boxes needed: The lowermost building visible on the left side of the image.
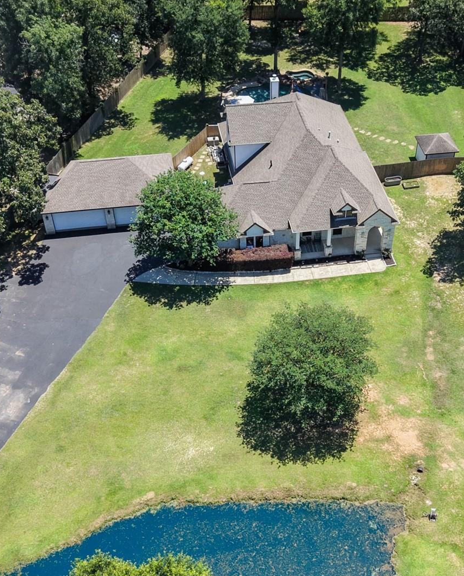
[42,153,176,233]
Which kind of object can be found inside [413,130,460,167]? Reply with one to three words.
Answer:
shed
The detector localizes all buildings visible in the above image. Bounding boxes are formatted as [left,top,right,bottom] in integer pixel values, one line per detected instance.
[413,130,460,167]
[42,153,176,233]
[203,70,403,259]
